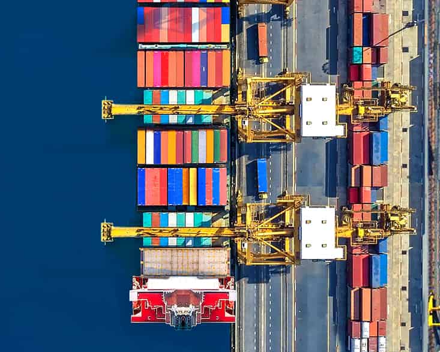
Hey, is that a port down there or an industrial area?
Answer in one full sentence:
The picture captures a port.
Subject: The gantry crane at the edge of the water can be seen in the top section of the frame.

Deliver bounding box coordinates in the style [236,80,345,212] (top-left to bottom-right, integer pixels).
[104,66,414,143]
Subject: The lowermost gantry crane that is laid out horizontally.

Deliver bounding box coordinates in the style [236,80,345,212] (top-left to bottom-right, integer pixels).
[104,182,414,264]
